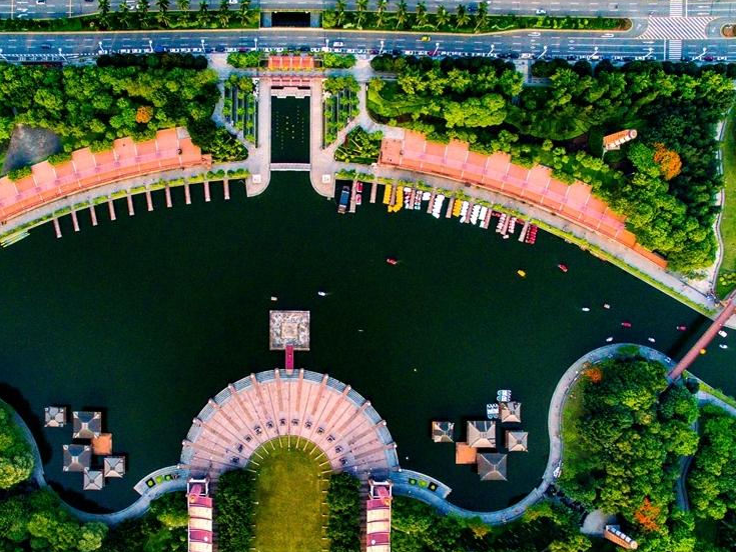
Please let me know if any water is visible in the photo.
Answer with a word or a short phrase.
Yes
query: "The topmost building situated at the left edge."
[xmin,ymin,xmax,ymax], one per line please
[0,129,205,222]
